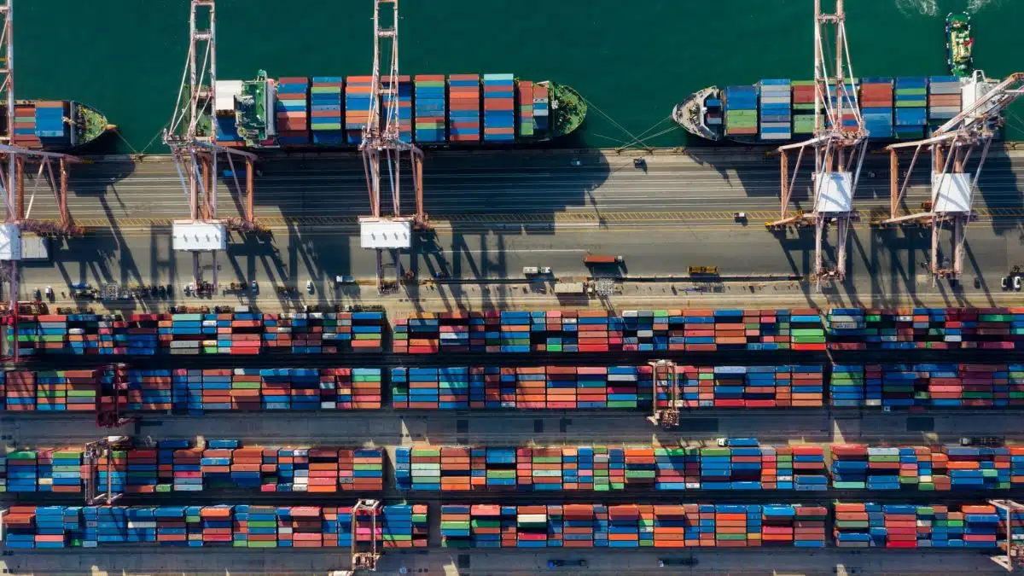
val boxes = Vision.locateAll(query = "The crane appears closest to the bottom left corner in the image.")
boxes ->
[85,430,137,506]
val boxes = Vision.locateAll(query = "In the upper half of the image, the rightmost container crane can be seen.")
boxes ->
[859,54,1024,287]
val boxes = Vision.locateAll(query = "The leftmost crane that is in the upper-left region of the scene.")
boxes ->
[0,0,101,301]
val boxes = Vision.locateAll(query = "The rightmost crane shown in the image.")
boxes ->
[978,495,1024,573]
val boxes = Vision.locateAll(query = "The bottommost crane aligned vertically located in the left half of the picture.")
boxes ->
[353,489,389,571]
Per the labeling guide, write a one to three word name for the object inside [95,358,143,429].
crane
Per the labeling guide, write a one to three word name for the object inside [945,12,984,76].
boat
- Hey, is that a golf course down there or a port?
port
